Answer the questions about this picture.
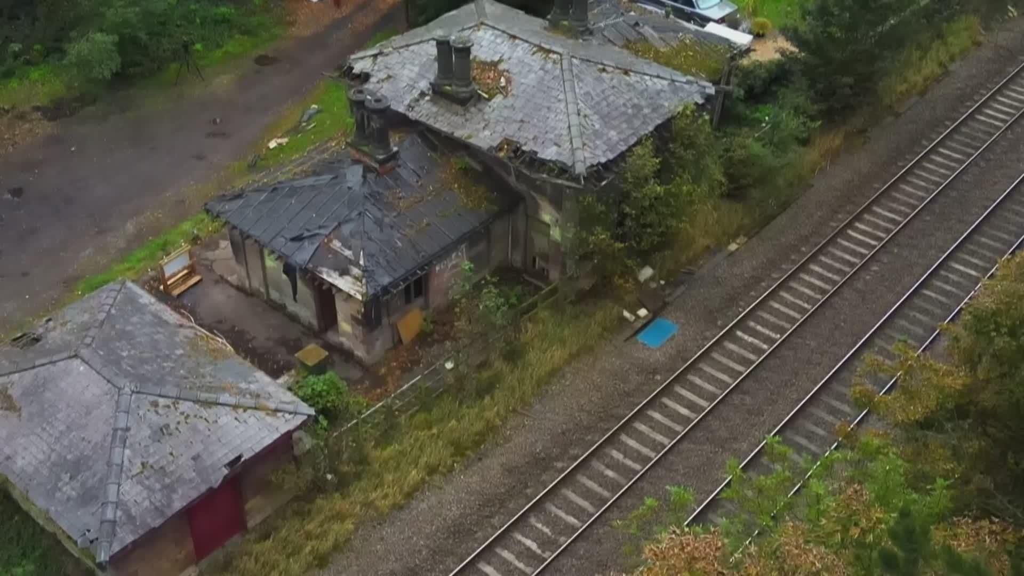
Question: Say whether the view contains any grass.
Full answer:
Yes, grass shows up in the scene.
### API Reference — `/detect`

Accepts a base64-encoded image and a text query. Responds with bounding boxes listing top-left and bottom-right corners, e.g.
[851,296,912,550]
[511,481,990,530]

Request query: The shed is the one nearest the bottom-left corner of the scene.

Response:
[0,278,318,576]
